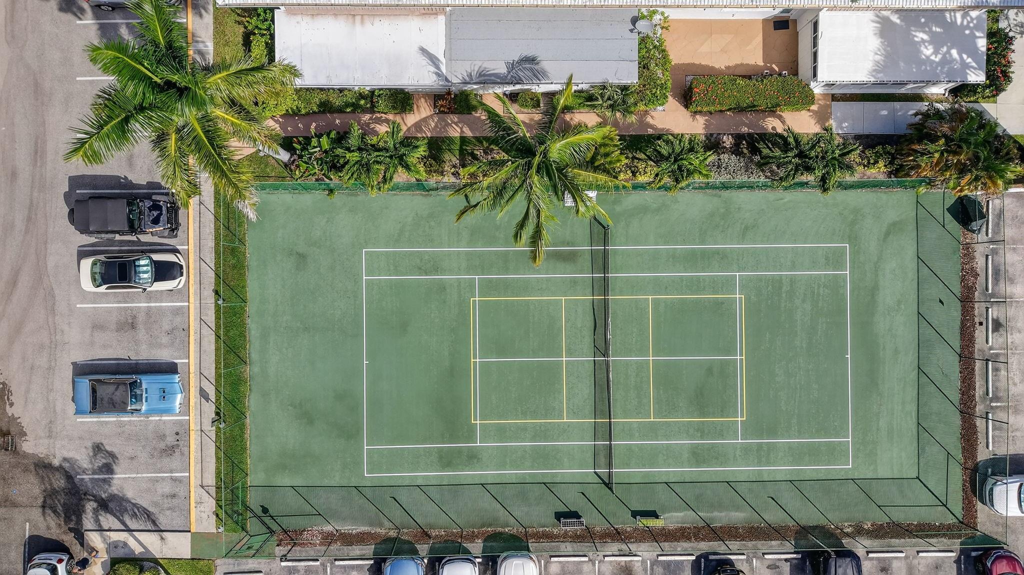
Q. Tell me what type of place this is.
sports ground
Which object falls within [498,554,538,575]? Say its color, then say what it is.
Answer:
white car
